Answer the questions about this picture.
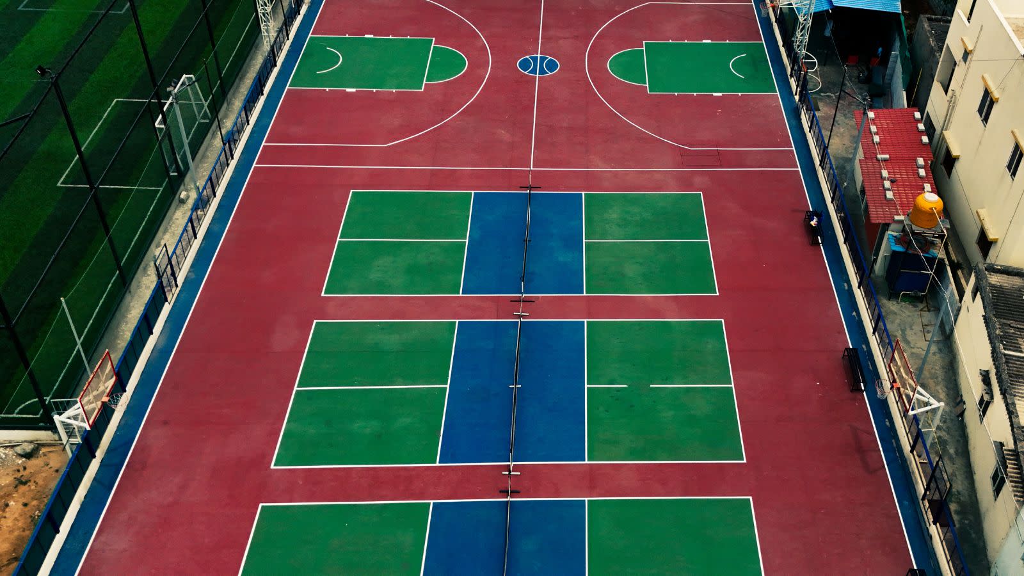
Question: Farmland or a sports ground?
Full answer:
The picture captures a sports ground.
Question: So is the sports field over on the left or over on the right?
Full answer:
The sports field appears in the left half of the scene.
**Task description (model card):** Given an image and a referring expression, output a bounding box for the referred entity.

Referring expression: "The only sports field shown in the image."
[0,0,273,419]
